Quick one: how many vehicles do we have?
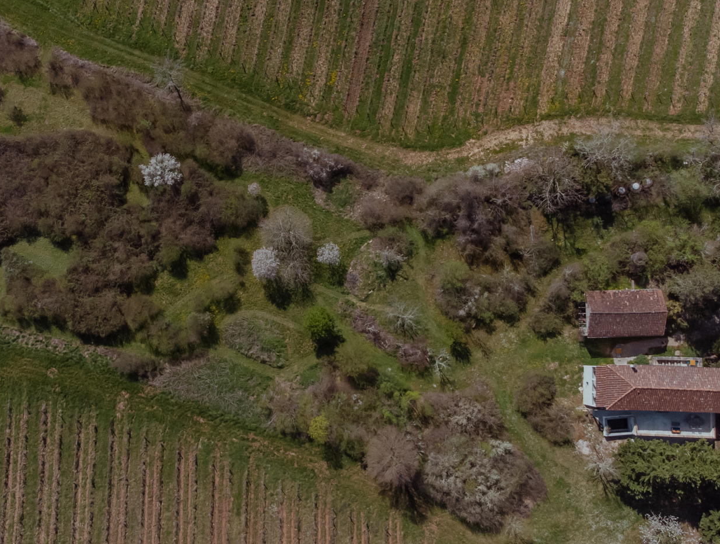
0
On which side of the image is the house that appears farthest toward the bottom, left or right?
right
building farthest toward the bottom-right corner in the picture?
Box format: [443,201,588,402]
[584,363,720,414]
